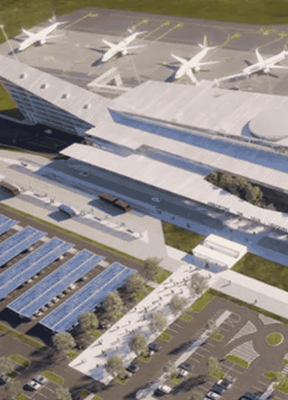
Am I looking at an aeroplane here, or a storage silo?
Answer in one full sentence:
This aerial view contains an aeroplane.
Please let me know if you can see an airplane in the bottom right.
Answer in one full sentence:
No, I can find no airplane in the bottom right.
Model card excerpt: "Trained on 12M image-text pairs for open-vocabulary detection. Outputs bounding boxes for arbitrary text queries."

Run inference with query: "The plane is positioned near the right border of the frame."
[241,44,288,72]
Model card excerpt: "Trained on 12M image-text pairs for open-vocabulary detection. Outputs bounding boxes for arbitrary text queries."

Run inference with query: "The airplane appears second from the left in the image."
[100,23,147,62]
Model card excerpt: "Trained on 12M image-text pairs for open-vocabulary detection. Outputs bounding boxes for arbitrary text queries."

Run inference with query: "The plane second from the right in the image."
[173,36,220,78]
